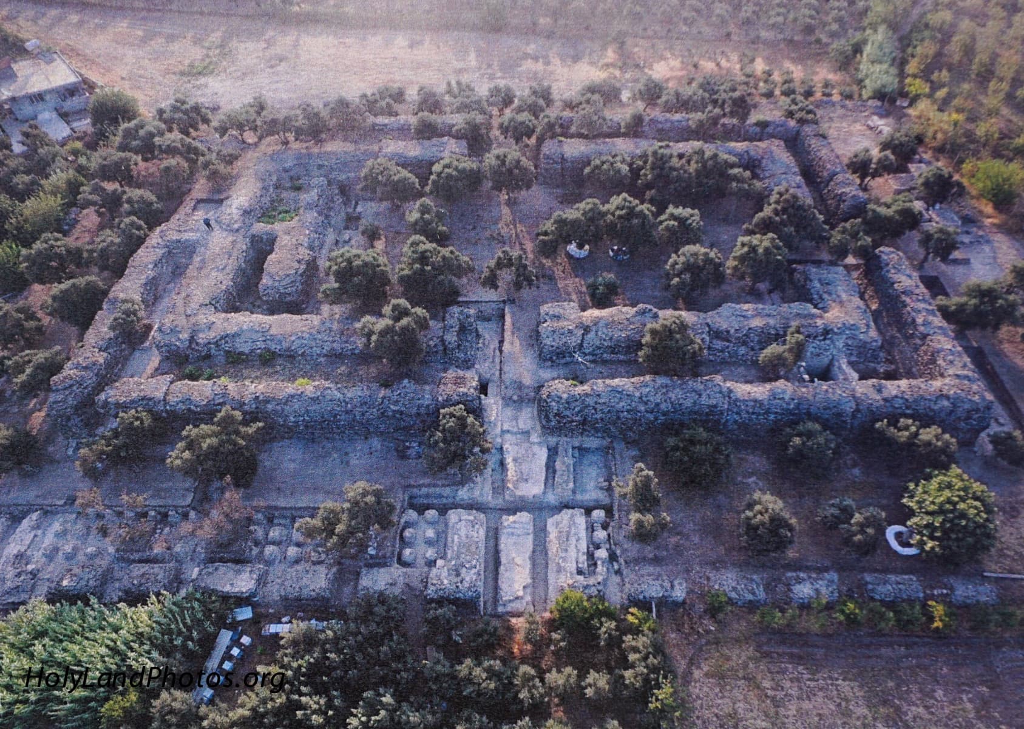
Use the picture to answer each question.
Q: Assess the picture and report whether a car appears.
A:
No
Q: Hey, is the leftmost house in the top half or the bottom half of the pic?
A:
top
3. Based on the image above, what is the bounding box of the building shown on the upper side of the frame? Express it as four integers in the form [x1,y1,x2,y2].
[0,56,86,130]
